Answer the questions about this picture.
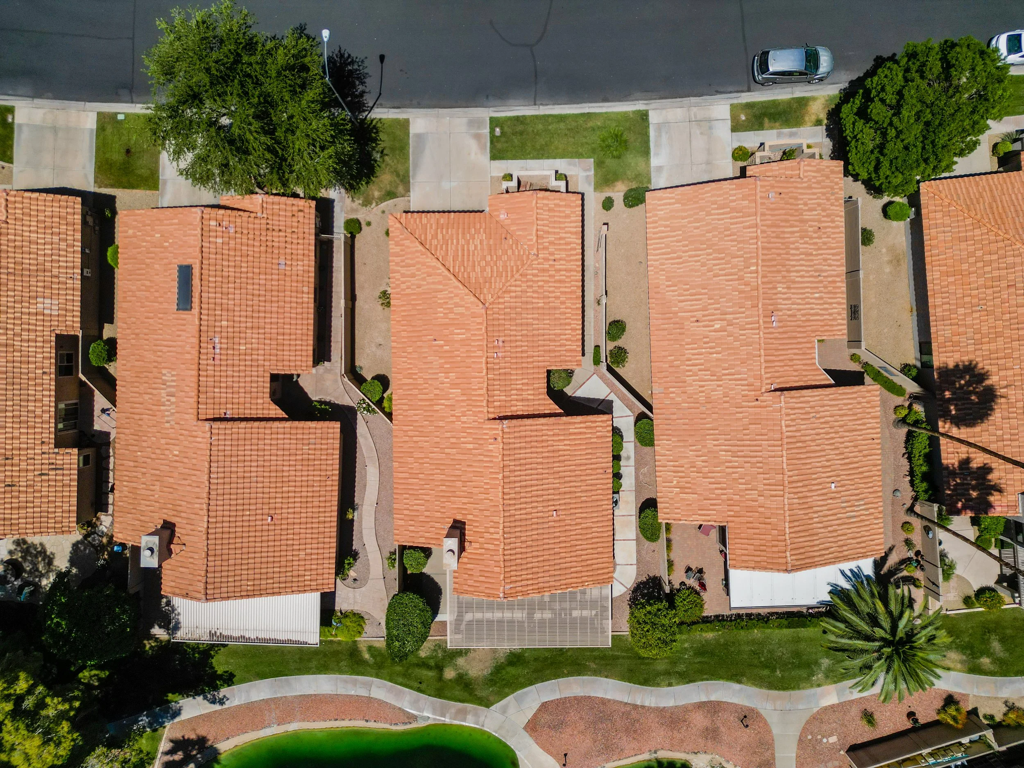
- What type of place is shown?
residential area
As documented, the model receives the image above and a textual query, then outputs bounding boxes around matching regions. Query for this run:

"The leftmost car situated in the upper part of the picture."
[749,40,836,87]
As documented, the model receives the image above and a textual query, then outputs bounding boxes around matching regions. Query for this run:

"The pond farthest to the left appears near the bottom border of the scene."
[203,724,517,768]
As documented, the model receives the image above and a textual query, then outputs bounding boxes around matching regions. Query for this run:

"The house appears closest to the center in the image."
[387,188,614,601]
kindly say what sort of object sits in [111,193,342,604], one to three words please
house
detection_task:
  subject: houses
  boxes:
[387,188,614,601]
[647,156,884,571]
[0,189,103,541]
[908,175,1024,519]
[111,193,342,604]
